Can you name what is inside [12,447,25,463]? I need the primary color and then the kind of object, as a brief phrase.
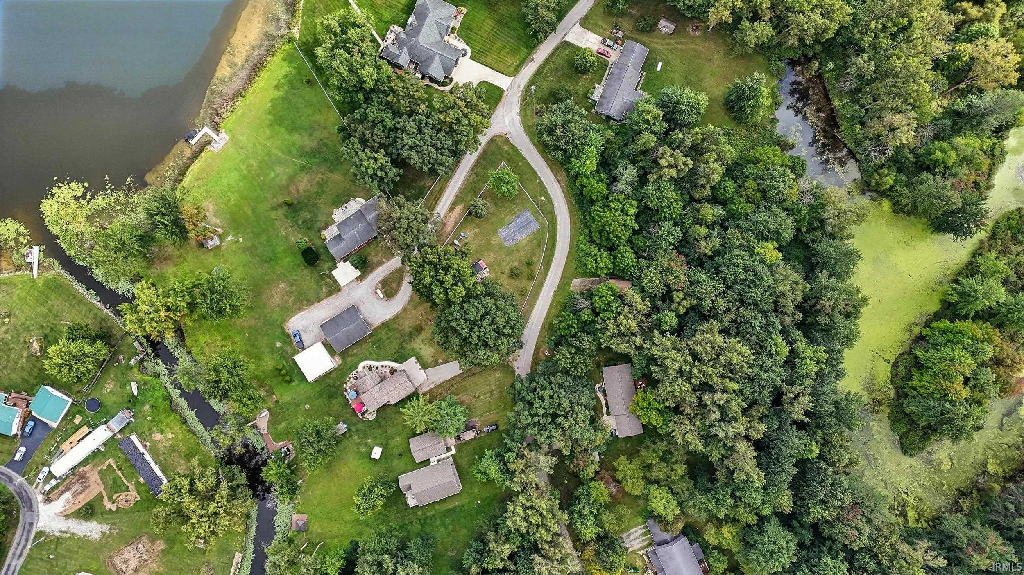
white vehicle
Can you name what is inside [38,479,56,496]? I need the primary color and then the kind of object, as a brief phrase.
white vehicle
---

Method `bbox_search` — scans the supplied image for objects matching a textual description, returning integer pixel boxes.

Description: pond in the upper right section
[776,57,862,191]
